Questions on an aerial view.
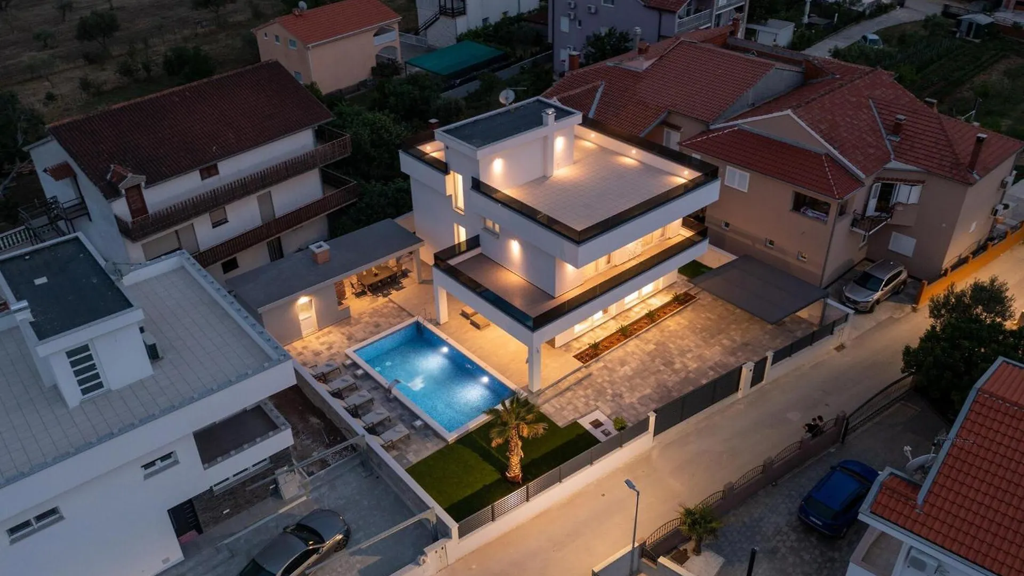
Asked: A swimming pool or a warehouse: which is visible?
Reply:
swimming pool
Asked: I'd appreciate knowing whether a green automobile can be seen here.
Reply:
No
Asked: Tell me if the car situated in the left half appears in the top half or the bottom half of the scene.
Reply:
bottom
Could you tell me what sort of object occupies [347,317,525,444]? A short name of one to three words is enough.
swimming pool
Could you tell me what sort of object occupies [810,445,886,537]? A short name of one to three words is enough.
car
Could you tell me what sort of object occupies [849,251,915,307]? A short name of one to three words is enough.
car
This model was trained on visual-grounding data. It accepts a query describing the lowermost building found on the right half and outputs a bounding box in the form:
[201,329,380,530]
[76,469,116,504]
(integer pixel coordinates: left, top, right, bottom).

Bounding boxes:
[837,351,1024,576]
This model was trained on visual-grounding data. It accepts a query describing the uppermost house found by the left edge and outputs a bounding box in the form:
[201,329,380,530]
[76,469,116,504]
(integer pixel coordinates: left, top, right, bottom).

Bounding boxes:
[21,60,357,291]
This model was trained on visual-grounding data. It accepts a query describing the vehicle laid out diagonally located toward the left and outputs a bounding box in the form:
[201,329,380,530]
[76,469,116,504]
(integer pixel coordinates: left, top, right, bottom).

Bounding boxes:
[247,511,348,576]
